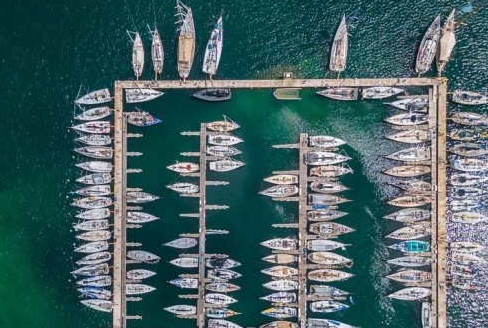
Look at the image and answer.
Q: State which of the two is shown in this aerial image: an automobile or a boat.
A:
boat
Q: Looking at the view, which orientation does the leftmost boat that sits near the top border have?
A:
vertically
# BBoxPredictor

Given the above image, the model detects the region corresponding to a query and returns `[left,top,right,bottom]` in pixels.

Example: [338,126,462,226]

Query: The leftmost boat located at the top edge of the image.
[125,2,145,82]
